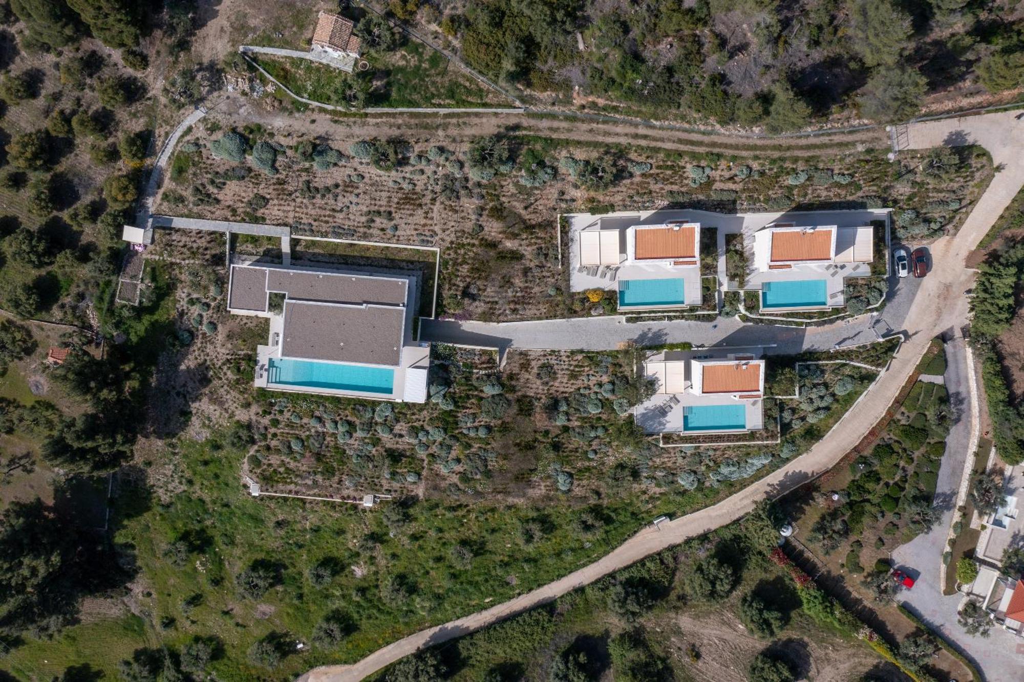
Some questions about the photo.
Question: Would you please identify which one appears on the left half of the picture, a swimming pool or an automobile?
swimming pool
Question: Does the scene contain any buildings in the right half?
Yes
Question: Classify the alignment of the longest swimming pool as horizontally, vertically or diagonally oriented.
horizontally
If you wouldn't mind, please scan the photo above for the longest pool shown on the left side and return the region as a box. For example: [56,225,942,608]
[268,358,394,394]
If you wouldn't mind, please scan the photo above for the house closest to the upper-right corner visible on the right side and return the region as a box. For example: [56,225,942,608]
[749,222,837,274]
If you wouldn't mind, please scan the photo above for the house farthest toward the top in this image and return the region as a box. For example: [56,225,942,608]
[313,12,364,61]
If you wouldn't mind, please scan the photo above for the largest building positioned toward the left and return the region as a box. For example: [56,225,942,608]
[228,264,412,367]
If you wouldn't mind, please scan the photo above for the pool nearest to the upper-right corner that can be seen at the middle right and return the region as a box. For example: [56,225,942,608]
[762,280,826,309]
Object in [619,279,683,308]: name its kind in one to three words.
swimming pool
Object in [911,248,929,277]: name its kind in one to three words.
car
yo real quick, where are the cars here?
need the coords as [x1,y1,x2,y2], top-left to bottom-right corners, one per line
[893,569,916,591]
[911,248,929,277]
[893,248,911,277]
